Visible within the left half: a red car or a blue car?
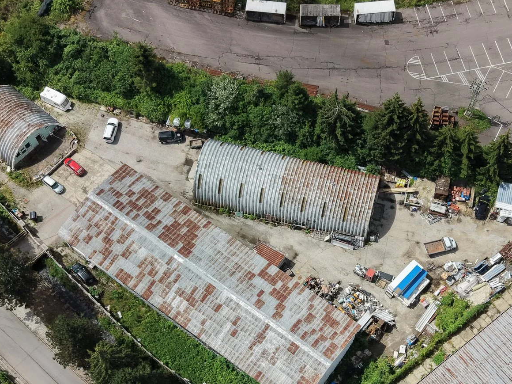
red car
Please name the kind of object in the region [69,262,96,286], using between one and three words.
car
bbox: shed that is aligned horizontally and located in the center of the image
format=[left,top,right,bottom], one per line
[193,136,382,246]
